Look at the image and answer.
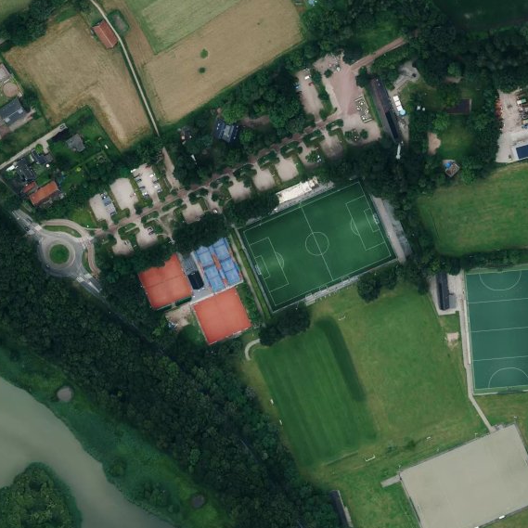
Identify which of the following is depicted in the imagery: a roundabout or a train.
roundabout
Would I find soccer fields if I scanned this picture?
Yes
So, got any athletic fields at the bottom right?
Yes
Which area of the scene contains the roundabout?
left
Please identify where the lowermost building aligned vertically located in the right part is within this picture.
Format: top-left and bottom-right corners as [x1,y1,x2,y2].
[437,273,450,310]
